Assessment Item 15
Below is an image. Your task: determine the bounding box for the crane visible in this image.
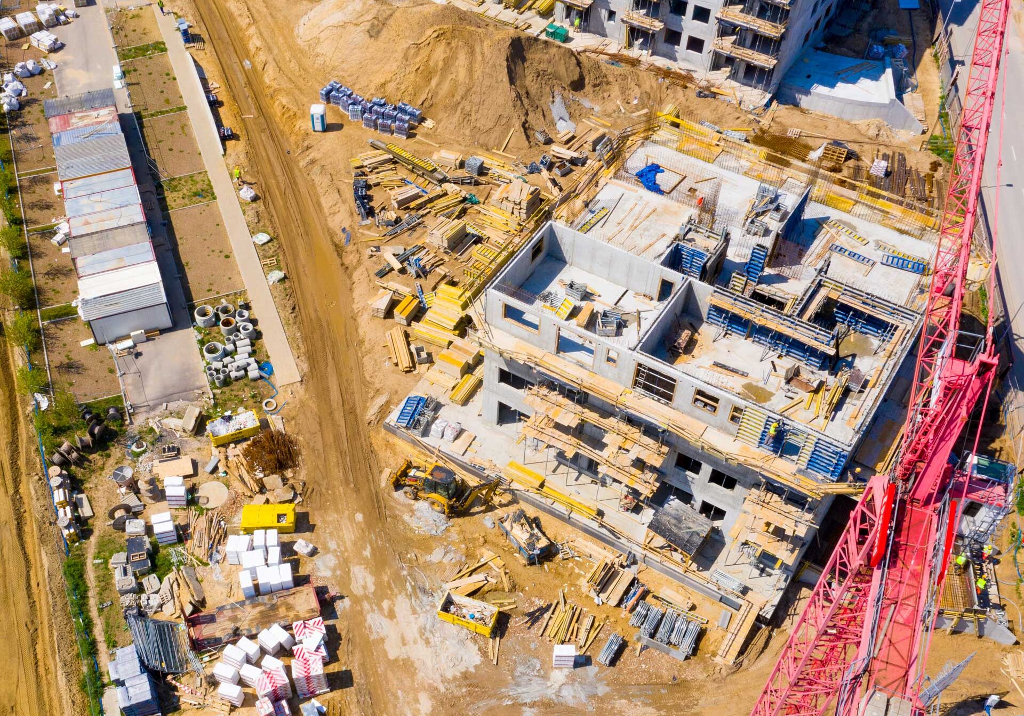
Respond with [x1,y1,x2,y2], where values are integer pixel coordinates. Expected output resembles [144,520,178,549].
[749,0,1024,716]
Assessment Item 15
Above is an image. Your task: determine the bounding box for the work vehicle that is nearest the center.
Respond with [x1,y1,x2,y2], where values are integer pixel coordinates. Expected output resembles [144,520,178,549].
[380,450,495,530]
